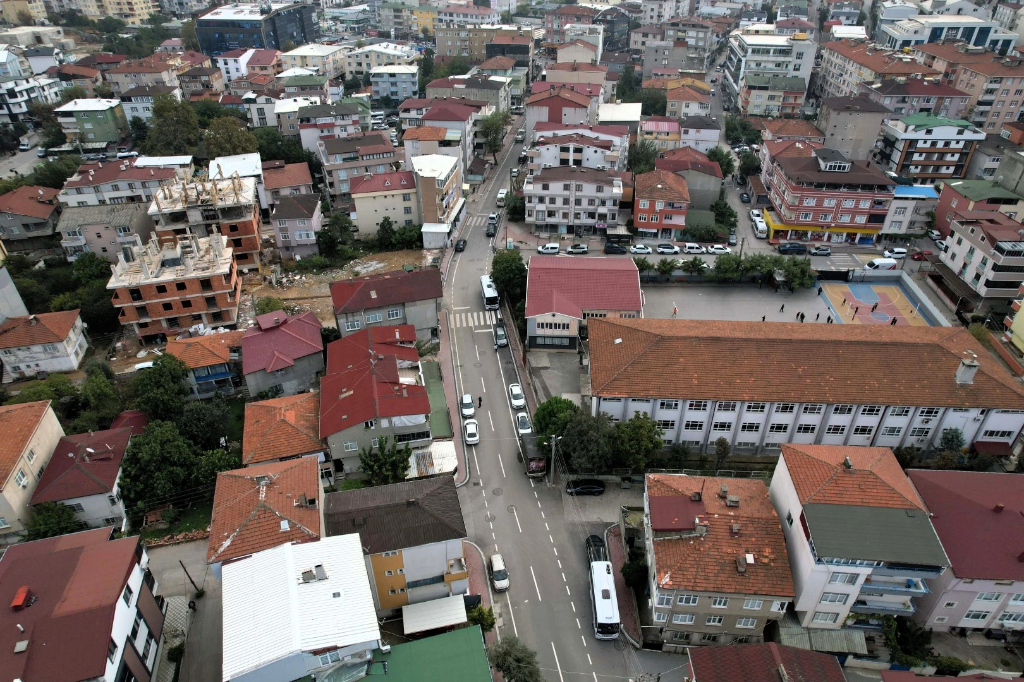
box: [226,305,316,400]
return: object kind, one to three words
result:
house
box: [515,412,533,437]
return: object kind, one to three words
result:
car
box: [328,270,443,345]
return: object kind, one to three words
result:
house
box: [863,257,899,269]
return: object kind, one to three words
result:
vehicle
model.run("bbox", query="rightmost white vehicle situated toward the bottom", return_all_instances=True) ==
[589,555,629,636]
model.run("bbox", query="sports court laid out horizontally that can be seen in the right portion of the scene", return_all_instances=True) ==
[815,283,945,325]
